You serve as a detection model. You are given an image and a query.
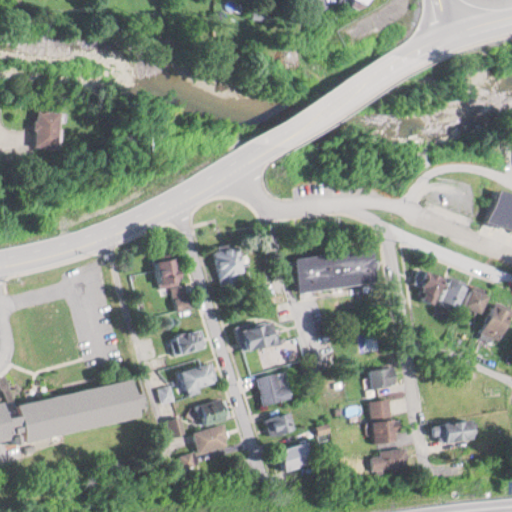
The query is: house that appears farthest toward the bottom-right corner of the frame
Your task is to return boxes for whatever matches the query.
[440,420,480,444]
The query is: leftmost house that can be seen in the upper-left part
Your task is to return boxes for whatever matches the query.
[34,111,67,147]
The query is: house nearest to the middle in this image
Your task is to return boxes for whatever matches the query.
[212,244,250,278]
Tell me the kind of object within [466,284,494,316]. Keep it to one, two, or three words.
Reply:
house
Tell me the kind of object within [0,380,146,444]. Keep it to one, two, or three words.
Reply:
building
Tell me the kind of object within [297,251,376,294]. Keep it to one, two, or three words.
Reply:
building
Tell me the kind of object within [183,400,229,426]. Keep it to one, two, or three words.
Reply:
house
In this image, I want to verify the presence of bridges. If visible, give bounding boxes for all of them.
[245,44,420,158]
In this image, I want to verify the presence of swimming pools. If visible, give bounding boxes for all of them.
[344,404,362,422]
